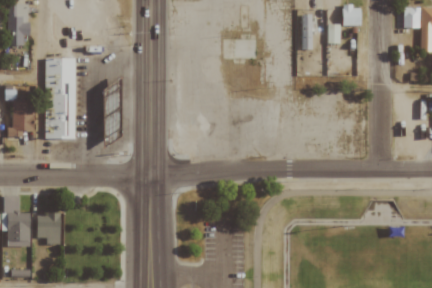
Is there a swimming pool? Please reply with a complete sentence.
No, no swimming pool can be seen from above.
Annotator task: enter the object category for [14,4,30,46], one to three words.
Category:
house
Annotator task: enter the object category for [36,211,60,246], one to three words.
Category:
house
